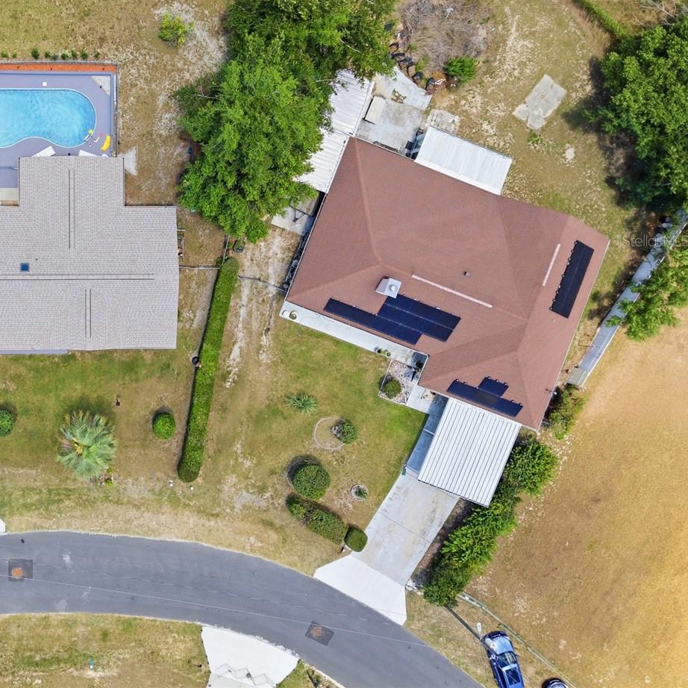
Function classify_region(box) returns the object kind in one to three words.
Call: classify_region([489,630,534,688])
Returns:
car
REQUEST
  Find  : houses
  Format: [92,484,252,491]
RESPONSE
[0,155,178,353]
[285,138,610,431]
